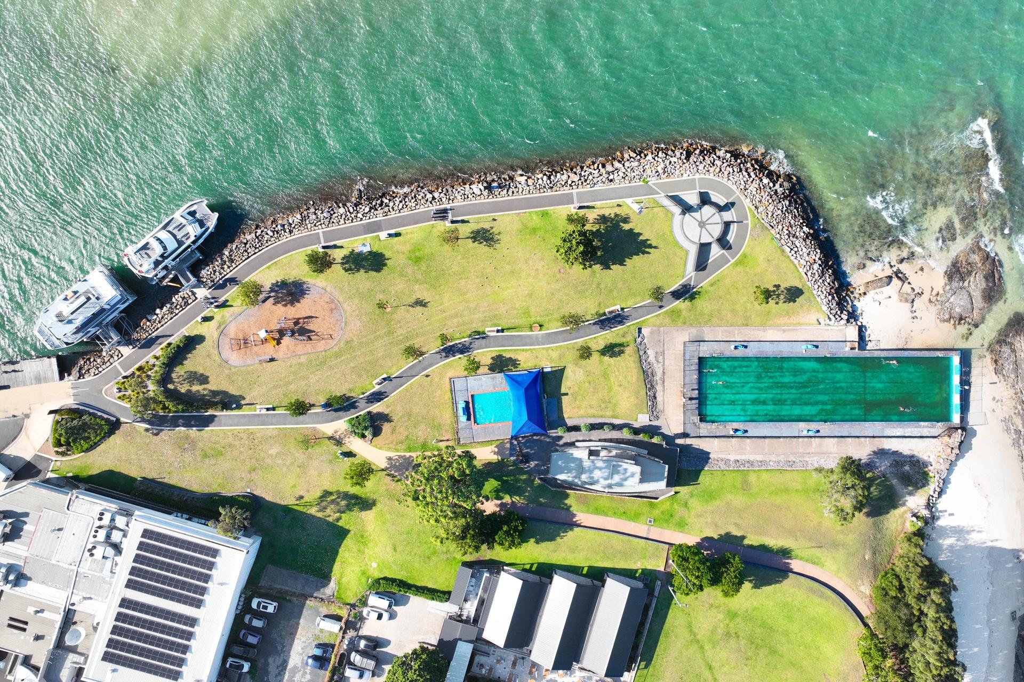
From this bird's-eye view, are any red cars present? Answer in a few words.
No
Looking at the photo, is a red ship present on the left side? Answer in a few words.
No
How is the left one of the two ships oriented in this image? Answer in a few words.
diagonally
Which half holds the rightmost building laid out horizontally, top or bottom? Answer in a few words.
bottom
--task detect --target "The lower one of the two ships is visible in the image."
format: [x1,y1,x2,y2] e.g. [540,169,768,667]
[35,266,138,349]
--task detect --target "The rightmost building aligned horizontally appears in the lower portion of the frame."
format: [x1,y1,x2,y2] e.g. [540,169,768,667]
[536,439,680,503]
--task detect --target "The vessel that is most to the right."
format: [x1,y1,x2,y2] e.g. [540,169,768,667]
[123,200,219,285]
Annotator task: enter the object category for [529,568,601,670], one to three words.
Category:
building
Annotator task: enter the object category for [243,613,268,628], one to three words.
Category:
car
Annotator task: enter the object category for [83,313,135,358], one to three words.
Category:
pier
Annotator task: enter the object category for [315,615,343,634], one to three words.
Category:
vehicle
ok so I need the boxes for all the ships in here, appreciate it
[123,200,219,285]
[35,266,138,349]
